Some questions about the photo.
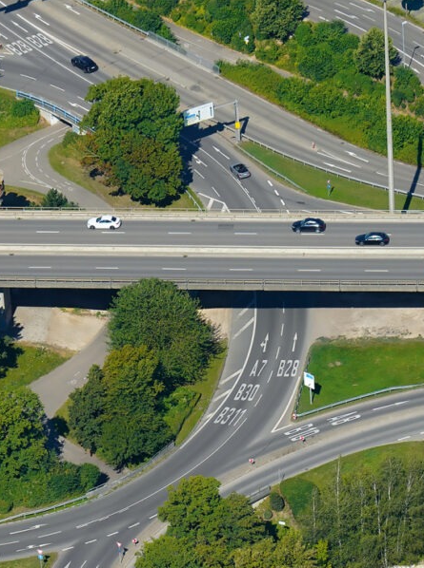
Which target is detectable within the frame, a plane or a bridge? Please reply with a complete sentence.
Looking from above, you can make out a bridge.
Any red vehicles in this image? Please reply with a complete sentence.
No, no red vehicle is visible in the view.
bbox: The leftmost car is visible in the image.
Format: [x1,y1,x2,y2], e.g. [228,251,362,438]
[72,55,98,73]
